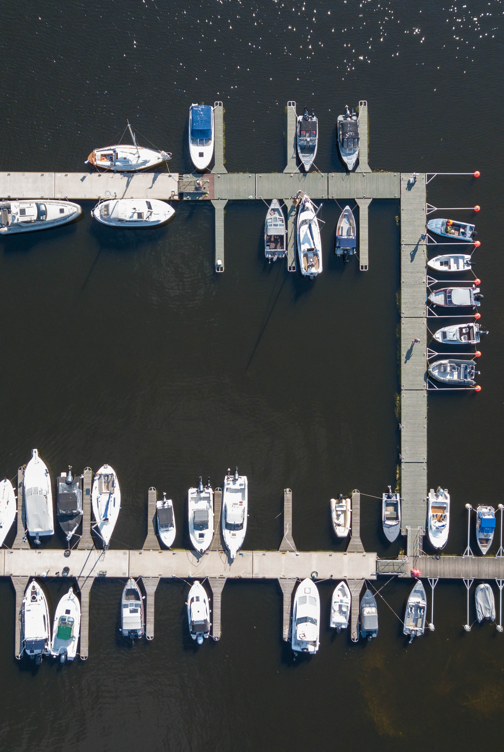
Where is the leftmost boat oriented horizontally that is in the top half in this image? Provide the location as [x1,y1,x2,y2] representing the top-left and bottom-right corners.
[0,197,95,232]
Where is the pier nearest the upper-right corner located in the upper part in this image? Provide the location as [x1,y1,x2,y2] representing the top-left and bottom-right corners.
[355,101,371,172]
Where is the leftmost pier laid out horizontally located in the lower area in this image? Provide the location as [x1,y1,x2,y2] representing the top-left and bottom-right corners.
[0,548,378,580]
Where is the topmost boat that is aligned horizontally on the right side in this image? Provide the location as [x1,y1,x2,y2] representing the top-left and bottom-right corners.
[425,219,478,242]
